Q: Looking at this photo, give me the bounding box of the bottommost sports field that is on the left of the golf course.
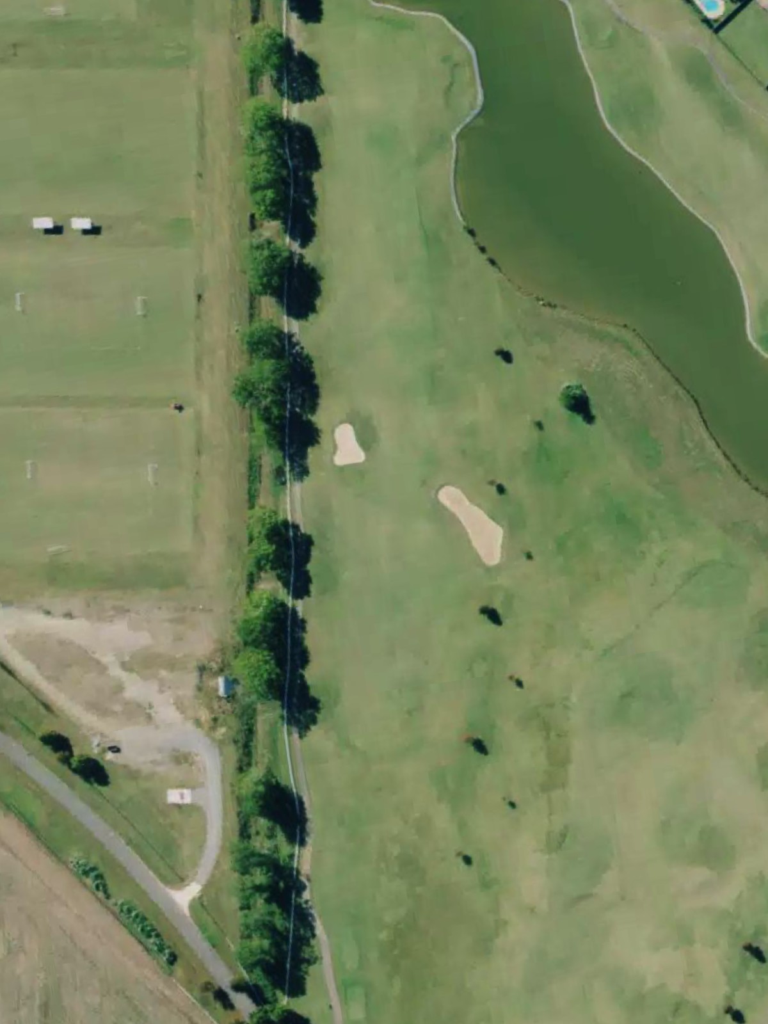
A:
[0,410,192,558]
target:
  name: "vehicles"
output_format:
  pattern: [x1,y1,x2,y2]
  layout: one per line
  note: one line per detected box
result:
[107,744,118,751]
[170,405,179,410]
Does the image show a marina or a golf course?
golf course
